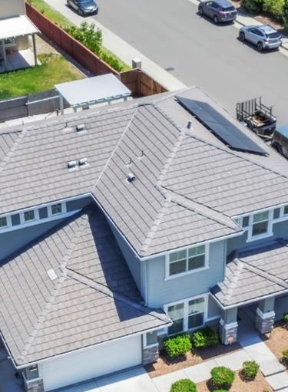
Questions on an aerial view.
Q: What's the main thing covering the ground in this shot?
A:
buildings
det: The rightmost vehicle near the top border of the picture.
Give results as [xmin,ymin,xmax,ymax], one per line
[238,19,286,51]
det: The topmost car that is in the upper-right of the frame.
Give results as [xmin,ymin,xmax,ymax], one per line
[198,0,238,23]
